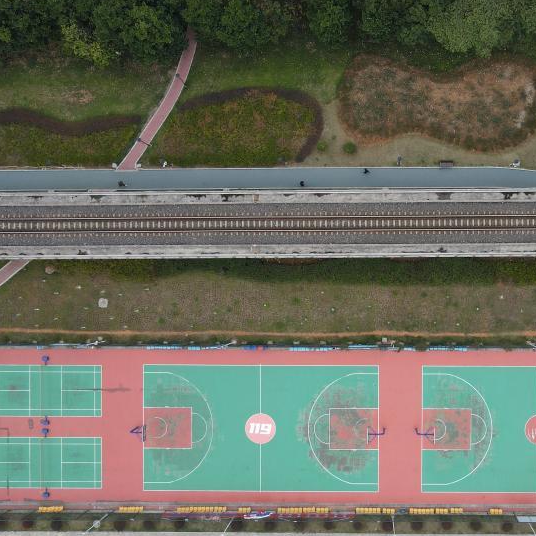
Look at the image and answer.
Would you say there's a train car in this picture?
No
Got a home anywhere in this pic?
No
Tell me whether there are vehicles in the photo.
No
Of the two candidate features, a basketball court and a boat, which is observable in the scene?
basketball court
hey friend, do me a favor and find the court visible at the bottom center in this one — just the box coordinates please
[143,364,379,492]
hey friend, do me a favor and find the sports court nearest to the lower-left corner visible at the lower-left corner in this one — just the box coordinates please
[0,437,102,488]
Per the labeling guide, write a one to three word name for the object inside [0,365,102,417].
sports court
